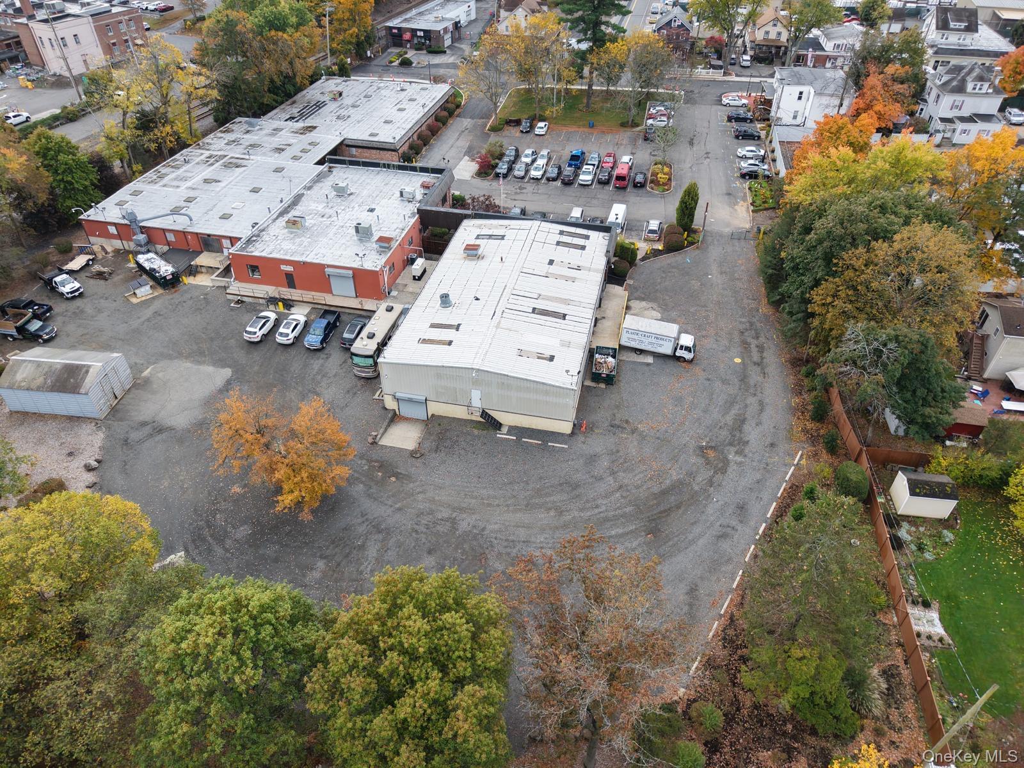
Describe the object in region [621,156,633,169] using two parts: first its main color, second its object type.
white vehicle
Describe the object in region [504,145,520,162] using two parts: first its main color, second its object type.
gray car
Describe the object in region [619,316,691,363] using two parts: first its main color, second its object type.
white truck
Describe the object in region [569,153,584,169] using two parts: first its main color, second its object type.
blue vehicle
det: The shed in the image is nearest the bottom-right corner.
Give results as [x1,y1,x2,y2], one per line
[889,469,962,519]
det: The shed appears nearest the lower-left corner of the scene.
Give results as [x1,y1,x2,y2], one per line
[0,352,138,420]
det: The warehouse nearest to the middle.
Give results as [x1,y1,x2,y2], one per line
[376,216,611,444]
